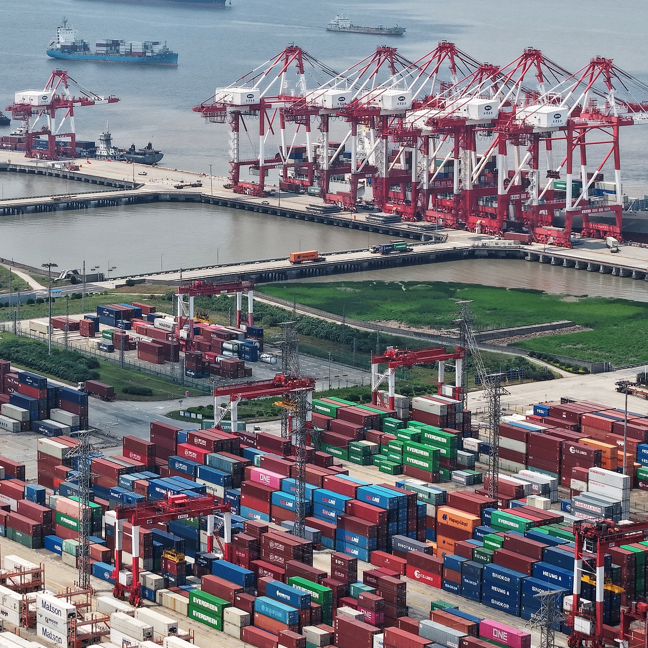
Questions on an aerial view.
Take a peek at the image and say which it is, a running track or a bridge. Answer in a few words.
bridge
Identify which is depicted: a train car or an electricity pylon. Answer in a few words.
electricity pylon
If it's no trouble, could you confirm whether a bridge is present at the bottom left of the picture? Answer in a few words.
No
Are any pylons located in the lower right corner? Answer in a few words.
Yes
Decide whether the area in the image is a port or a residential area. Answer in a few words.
port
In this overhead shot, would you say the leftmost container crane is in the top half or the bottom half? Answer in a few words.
top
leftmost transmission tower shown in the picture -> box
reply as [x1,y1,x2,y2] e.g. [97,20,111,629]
[59,422,108,590]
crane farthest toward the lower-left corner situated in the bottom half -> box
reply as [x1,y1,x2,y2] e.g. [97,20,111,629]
[106,491,241,610]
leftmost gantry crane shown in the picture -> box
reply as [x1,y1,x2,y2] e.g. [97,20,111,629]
[7,72,114,158]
